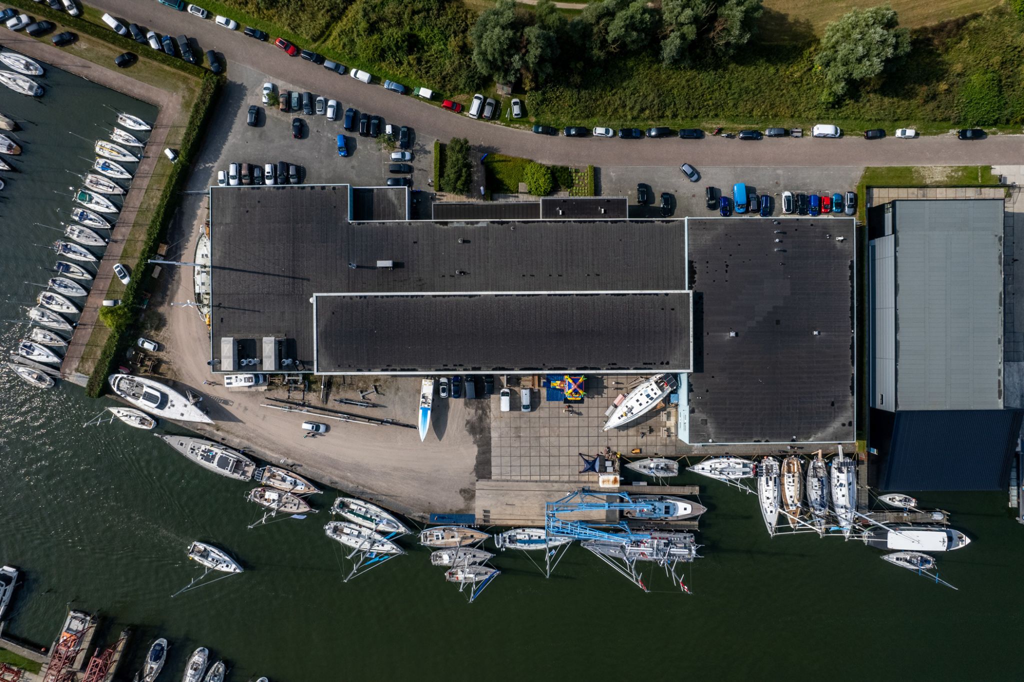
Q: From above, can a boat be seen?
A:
Yes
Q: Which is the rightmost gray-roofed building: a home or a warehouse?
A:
warehouse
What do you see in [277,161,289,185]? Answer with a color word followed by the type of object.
black vehicle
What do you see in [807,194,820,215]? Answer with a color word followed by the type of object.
blue vehicle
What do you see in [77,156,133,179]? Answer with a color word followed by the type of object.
white boat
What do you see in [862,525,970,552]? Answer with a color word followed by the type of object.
white boat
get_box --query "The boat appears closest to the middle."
[419,377,434,441]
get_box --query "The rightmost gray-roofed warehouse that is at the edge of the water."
[873,199,1006,436]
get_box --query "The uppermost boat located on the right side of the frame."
[602,373,681,432]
